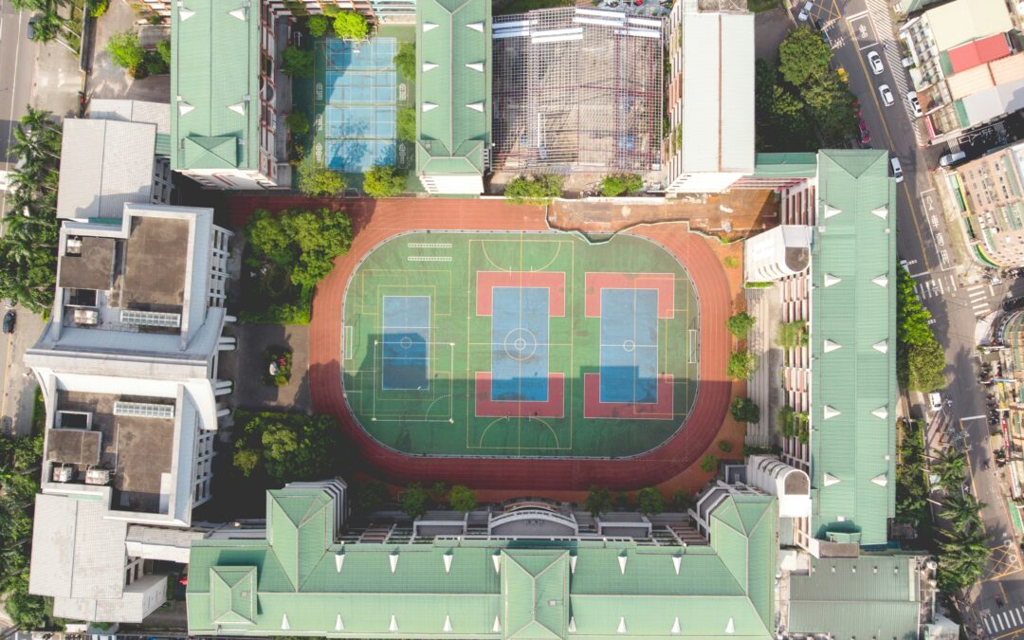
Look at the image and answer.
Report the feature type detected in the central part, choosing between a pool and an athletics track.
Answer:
athletics track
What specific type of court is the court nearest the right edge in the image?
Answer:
basketball court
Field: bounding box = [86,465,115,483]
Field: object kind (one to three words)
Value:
water tank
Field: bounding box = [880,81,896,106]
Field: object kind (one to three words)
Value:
car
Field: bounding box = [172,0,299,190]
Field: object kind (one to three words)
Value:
building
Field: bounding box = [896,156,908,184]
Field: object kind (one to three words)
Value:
vehicle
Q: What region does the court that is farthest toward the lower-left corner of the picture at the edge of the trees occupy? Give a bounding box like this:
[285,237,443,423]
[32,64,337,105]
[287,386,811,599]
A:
[343,270,451,416]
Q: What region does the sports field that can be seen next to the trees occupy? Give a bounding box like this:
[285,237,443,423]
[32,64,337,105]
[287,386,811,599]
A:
[341,231,700,459]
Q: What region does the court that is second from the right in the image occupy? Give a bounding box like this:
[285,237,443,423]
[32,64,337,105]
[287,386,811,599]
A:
[476,272,564,418]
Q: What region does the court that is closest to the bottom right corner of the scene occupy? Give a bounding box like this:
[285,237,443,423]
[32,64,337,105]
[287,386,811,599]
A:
[585,273,688,419]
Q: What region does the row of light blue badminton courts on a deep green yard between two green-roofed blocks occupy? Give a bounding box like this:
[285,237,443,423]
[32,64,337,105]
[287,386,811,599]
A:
[294,23,417,194]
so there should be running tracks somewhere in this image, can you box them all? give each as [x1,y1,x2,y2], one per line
[228,197,732,490]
